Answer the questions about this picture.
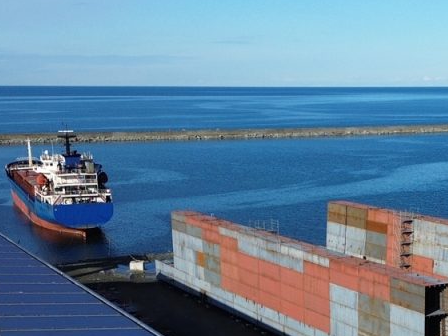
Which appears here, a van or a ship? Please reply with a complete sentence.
I can see a ship in this picture.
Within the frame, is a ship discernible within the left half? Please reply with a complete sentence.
Yes, within the left half there is a ship.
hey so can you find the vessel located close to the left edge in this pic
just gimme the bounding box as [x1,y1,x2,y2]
[8,111,114,233]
